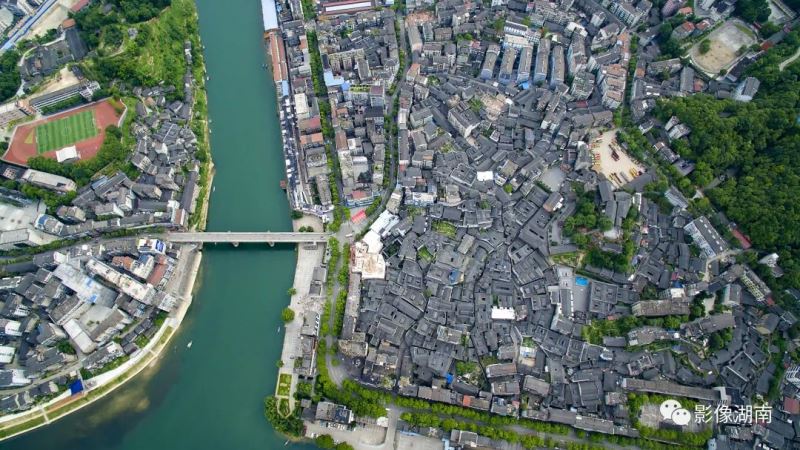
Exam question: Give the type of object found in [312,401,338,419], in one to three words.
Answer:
building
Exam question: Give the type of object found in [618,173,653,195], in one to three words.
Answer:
house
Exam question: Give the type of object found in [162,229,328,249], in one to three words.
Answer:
bridge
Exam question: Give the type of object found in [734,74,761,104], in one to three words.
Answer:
building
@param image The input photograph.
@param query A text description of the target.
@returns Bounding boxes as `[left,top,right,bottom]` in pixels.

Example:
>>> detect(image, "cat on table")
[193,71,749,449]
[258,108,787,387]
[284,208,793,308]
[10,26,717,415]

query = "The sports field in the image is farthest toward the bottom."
[2,97,126,165]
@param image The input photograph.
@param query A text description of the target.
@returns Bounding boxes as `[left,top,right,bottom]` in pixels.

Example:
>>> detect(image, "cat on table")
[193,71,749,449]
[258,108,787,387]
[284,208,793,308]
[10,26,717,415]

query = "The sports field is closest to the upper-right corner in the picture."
[691,16,758,73]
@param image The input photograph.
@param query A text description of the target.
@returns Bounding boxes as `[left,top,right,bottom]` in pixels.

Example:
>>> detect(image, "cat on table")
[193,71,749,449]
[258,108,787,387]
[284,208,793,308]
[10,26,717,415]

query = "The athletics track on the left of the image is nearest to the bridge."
[2,97,126,165]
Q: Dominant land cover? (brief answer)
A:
buildings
